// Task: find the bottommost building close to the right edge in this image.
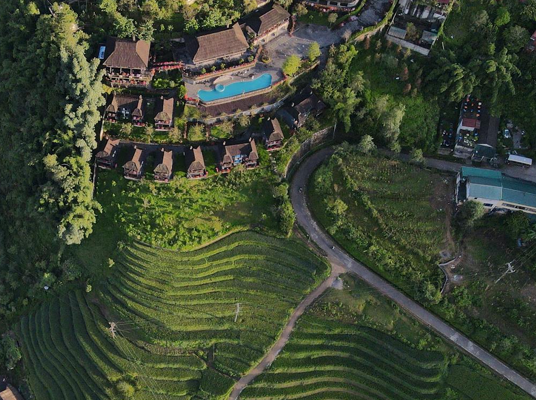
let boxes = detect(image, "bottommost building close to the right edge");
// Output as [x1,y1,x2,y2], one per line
[463,167,536,217]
